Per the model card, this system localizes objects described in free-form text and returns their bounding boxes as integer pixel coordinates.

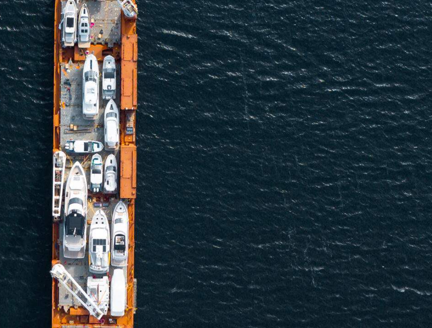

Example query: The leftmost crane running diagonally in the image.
[52,264,104,319]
